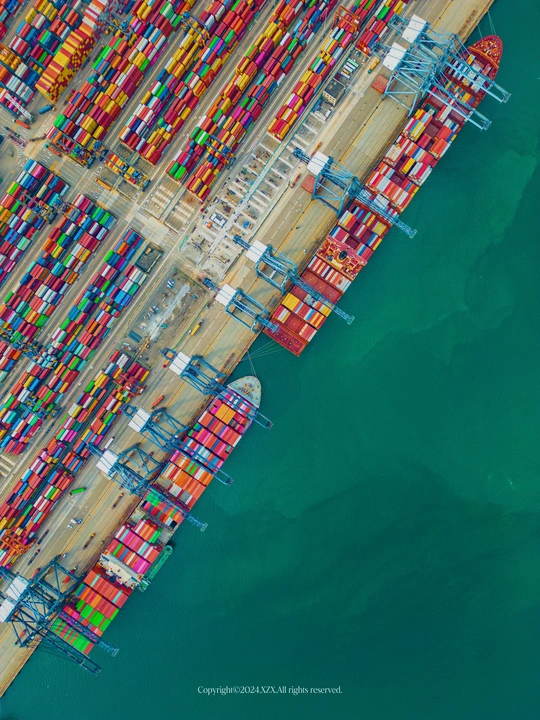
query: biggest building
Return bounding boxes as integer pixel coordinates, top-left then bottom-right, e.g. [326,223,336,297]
[323,79,346,108]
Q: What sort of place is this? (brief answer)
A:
port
